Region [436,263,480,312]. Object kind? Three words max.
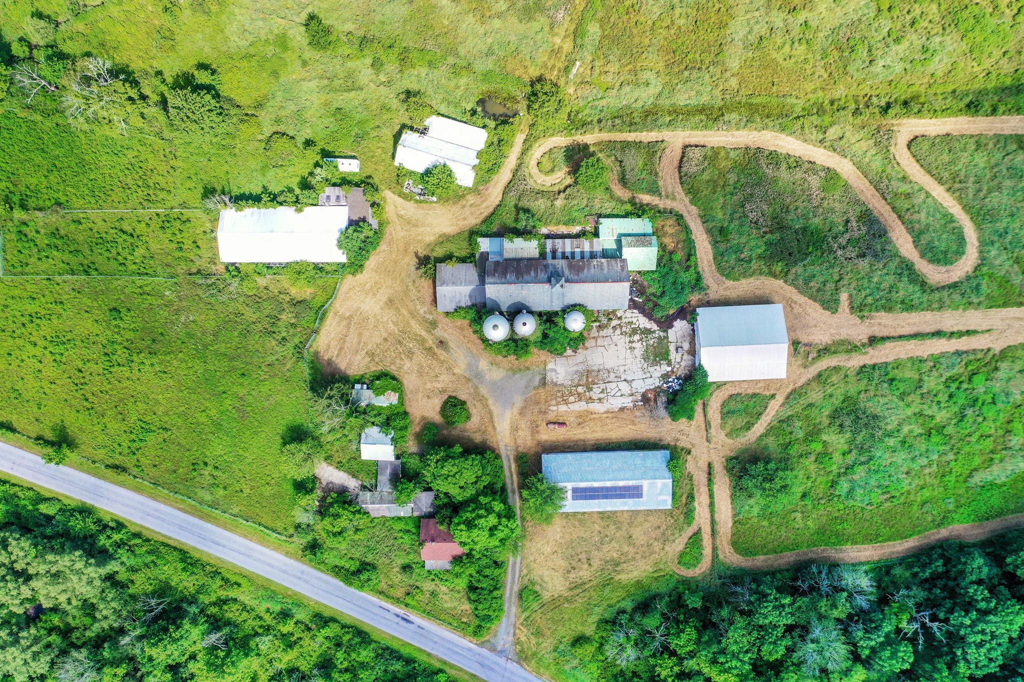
barn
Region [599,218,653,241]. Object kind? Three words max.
shed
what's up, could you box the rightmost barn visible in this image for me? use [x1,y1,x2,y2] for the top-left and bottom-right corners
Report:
[694,304,788,382]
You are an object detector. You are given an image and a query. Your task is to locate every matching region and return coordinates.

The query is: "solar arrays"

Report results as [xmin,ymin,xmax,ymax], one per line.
[572,485,643,501]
